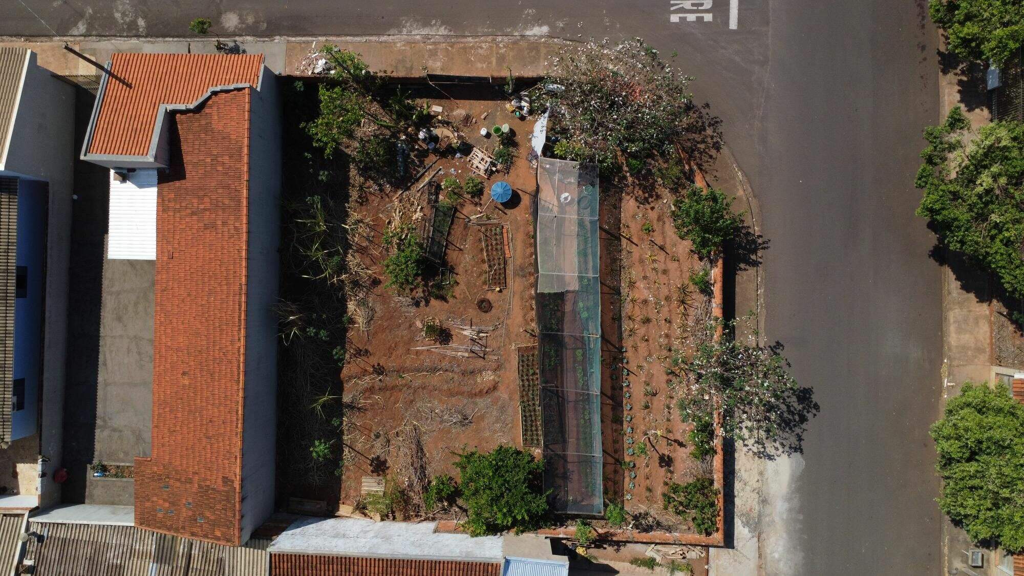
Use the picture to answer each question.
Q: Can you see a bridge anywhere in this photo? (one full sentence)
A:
No, I can't see a single bridge in this photo.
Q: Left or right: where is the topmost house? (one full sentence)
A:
The topmost house is on the left side of the image.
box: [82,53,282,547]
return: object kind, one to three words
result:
house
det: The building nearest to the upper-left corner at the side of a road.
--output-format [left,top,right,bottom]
[0,44,74,185]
